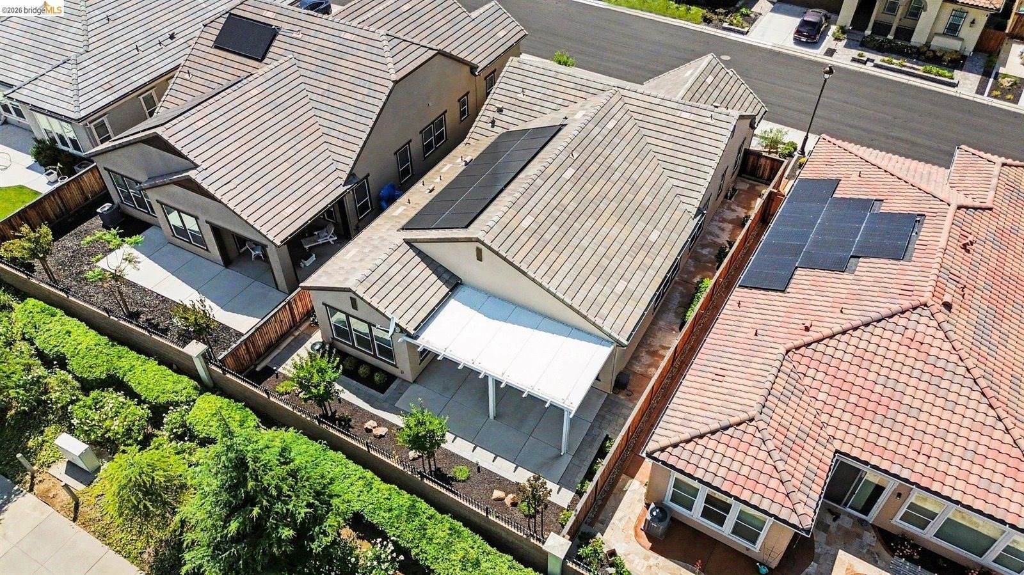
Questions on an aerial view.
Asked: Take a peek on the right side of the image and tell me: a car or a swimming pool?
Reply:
car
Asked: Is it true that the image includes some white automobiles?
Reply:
No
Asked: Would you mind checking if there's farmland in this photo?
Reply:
No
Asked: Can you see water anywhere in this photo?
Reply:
No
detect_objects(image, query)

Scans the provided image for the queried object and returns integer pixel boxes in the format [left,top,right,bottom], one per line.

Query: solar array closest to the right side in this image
[741,176,924,288]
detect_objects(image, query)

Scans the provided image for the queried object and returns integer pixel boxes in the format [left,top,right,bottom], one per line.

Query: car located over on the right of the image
[793,6,837,39]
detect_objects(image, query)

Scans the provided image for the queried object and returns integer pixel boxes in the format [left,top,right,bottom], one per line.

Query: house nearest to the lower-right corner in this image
[642,133,1024,575]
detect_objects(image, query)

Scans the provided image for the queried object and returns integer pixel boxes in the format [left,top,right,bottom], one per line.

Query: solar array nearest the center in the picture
[402,123,566,229]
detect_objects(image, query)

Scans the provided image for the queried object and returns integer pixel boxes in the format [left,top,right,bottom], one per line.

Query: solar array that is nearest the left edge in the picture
[209,14,287,64]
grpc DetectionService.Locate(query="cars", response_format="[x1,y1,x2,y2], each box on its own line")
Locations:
[292,0,354,12]
[793,6,837,39]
